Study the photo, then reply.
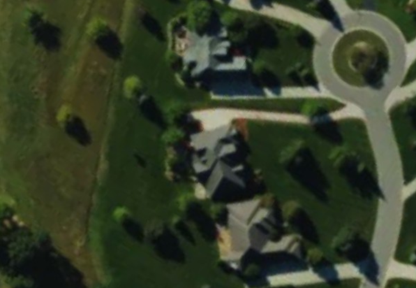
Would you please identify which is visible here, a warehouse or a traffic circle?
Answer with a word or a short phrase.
traffic circle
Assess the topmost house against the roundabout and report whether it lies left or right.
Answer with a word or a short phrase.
left of it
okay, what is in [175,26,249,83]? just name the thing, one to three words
house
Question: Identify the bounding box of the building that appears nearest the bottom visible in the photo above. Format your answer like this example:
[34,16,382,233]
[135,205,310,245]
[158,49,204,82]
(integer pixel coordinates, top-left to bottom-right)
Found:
[225,193,311,263]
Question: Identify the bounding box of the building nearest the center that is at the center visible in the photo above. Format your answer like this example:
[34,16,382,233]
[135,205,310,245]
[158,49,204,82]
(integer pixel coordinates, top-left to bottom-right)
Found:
[188,118,259,205]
